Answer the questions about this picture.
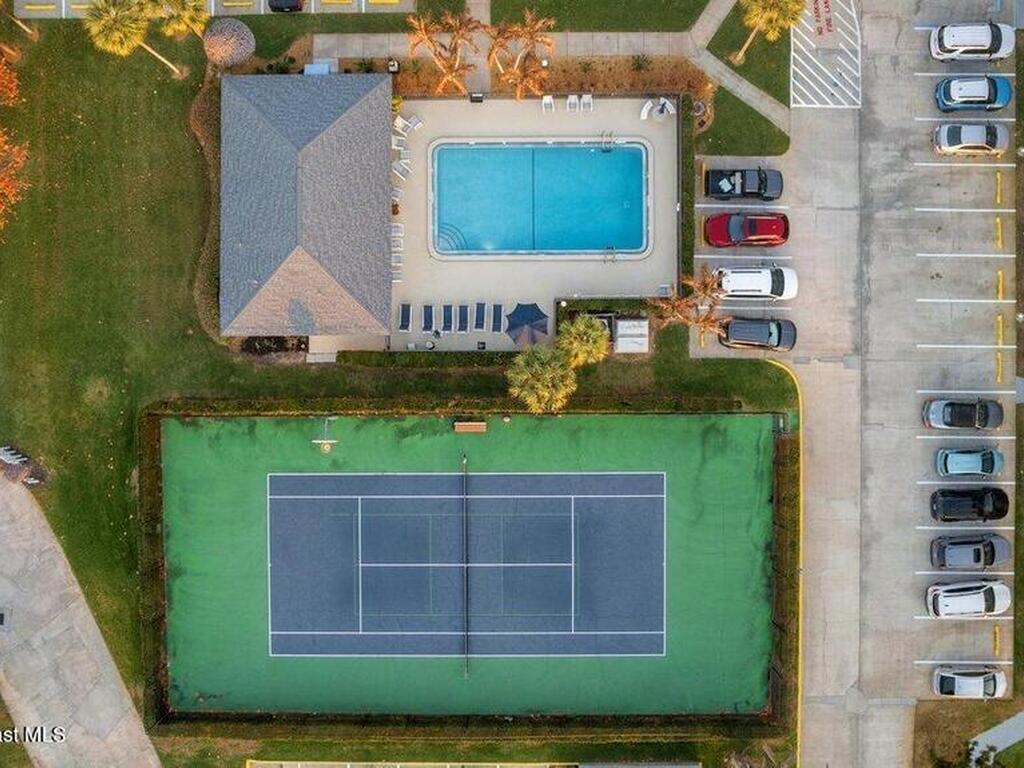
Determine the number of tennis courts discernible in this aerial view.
1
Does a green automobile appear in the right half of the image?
No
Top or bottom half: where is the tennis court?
bottom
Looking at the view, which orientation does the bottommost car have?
horizontally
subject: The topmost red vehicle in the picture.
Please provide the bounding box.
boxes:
[703,209,790,248]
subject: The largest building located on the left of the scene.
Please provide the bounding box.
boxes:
[220,64,392,362]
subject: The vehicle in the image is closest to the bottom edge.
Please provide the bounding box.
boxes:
[930,663,1007,704]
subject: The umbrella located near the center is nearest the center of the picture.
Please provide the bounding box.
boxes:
[505,306,547,348]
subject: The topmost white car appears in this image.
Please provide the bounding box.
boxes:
[929,18,1014,63]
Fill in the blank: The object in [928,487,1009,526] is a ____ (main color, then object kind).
black car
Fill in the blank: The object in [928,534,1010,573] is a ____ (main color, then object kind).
gray car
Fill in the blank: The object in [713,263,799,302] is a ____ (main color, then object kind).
white car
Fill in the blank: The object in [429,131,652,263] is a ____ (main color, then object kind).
blue swimming pool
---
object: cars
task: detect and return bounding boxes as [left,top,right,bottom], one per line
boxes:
[713,263,799,302]
[931,120,1009,159]
[928,487,1009,526]
[703,209,790,248]
[934,445,1004,480]
[269,0,304,14]
[930,663,1007,704]
[928,534,1010,573]
[934,73,1009,114]
[718,315,797,352]
[929,18,1014,63]
[920,397,1003,434]
[924,579,1011,621]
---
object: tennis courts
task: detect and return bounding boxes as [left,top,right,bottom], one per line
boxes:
[160,413,798,713]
